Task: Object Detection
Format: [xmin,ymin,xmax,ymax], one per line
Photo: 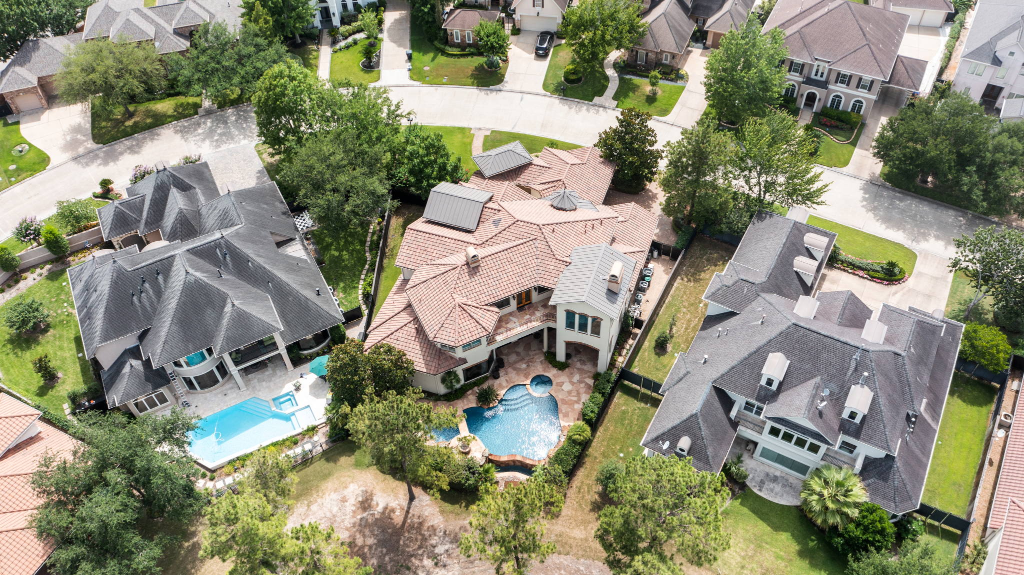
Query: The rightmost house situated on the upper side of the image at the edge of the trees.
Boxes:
[953,0,1024,137]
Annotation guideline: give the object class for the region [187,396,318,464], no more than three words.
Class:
swimming pool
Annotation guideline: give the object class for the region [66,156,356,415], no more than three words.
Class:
house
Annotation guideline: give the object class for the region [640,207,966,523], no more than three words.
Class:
house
